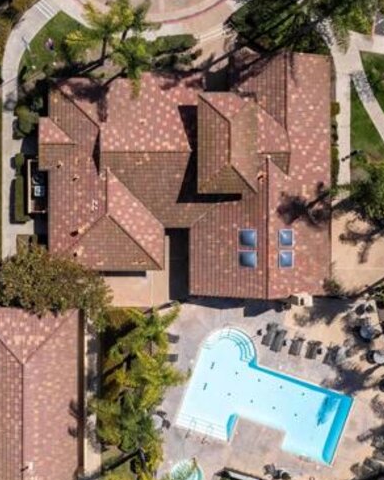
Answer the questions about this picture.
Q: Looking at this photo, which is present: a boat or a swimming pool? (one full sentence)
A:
Of the two, only a swimming pool appears.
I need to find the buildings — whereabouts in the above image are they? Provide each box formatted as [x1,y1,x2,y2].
[39,45,331,307]
[0,306,82,480]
